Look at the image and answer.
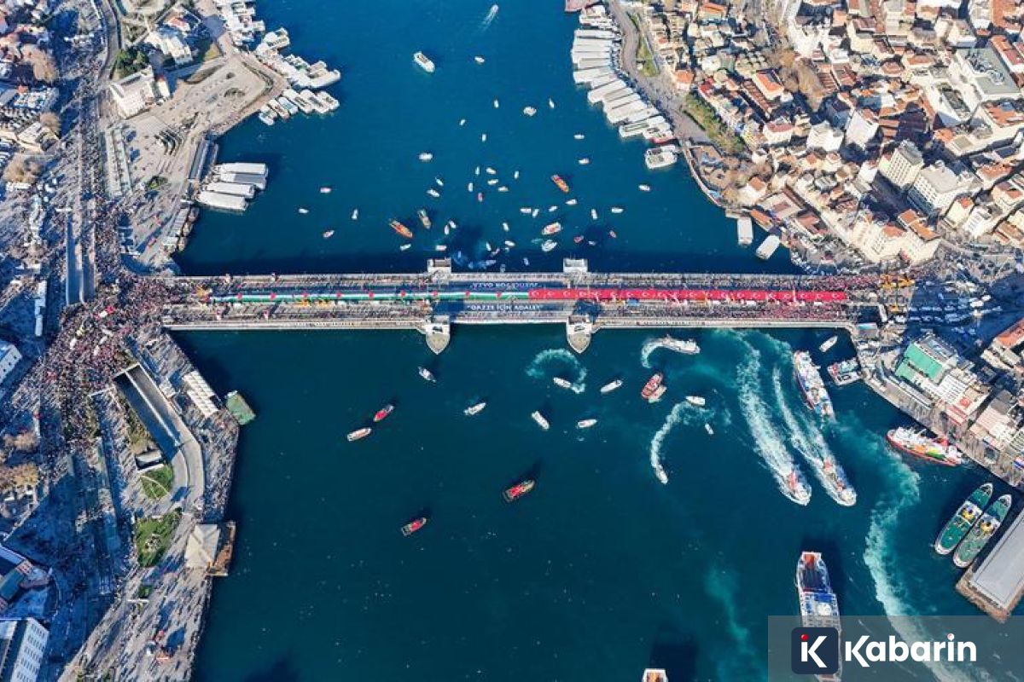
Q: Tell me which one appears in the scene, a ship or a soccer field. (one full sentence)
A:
It is a ship that can be seen here.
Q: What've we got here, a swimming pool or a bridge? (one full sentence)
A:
Of the two, only a bridge appears.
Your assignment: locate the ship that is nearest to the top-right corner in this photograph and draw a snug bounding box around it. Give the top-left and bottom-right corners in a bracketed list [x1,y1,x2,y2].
[755,233,784,262]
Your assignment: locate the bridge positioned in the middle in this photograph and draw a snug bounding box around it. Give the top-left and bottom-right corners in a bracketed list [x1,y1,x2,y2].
[167,255,857,356]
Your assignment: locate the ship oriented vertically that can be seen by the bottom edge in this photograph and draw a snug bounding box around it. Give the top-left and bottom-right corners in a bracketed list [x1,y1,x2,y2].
[798,549,844,682]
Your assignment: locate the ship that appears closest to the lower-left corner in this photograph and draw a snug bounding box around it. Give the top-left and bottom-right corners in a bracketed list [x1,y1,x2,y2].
[222,388,256,427]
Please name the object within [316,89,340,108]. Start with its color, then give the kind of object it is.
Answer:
white boat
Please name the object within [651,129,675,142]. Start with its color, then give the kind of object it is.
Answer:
white ship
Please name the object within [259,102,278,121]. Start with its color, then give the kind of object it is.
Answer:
white boat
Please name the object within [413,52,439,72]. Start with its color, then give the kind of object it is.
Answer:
white ship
